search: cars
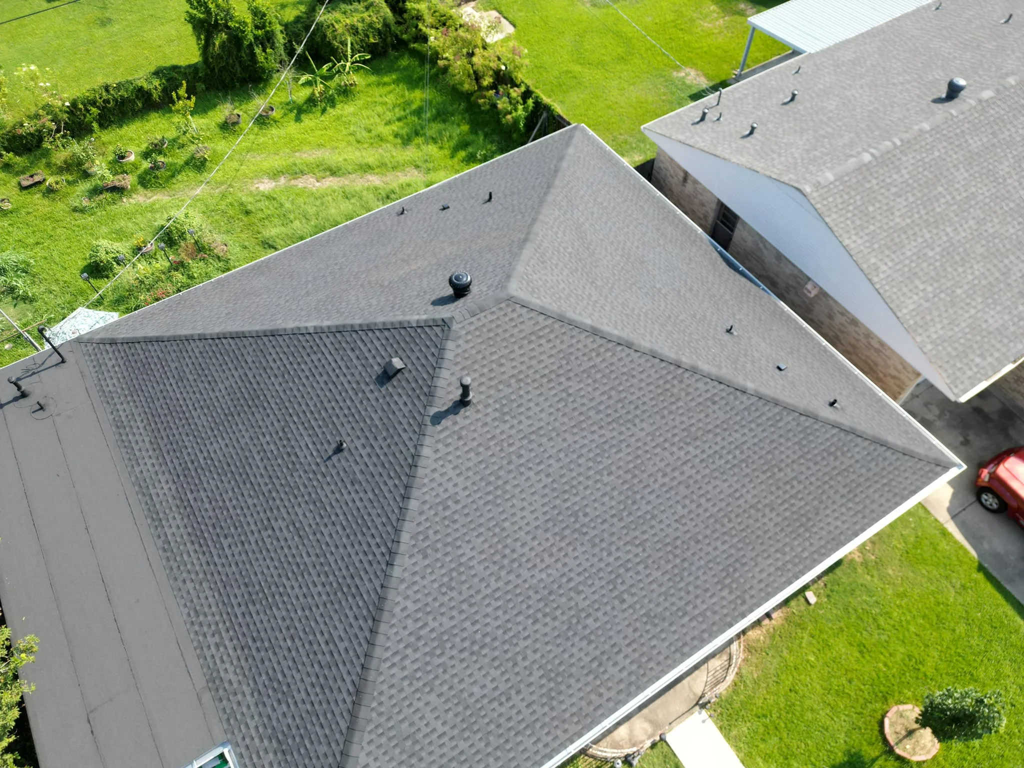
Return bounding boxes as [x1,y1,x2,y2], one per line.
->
[973,437,1024,534]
